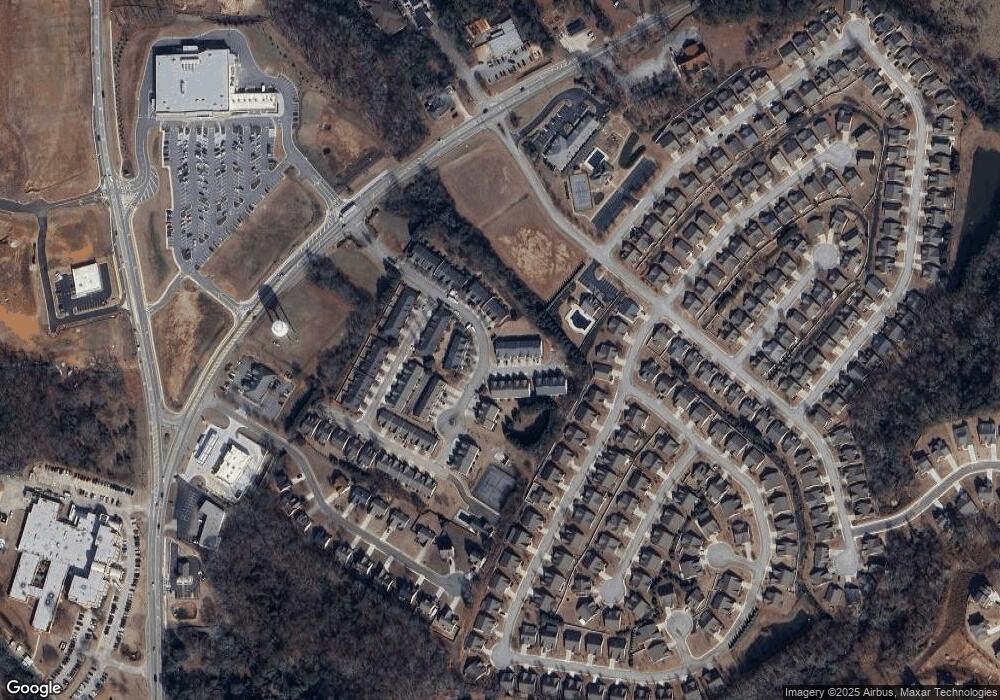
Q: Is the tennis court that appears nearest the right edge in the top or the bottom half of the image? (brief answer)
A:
top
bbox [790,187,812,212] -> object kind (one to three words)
house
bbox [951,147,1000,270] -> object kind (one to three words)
pond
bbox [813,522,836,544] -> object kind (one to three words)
house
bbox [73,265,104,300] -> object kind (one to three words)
building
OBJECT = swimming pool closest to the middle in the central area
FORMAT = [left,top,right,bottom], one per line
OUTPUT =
[565,305,595,335]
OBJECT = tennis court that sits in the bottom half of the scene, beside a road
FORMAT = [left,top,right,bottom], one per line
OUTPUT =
[474,466,516,510]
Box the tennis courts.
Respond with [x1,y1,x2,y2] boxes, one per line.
[568,173,593,210]
[474,466,516,510]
